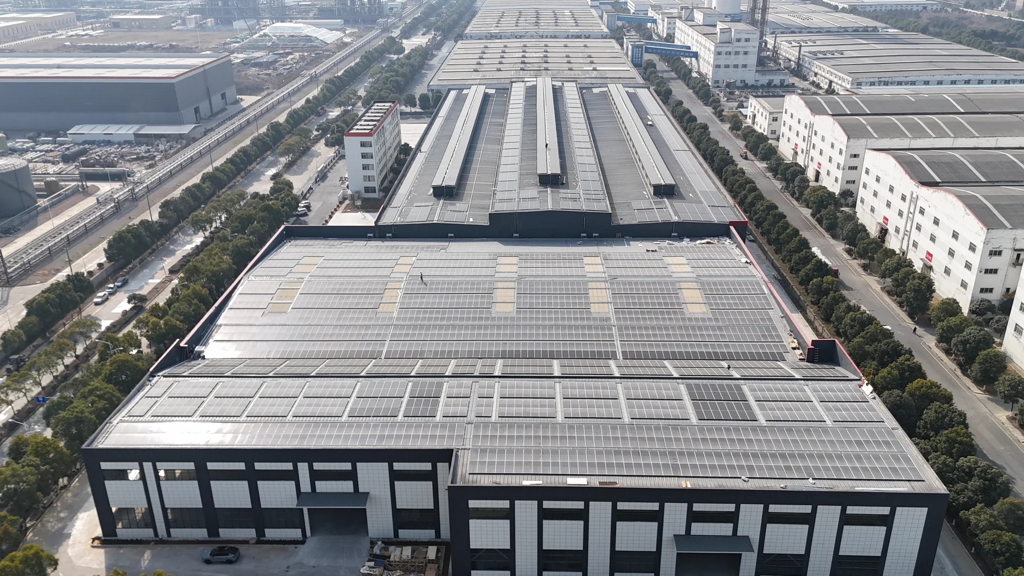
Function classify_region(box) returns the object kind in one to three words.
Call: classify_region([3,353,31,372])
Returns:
work vehicle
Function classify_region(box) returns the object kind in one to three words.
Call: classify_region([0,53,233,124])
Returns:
building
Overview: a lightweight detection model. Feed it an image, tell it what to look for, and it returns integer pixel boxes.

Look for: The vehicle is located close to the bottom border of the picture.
[200,548,239,567]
